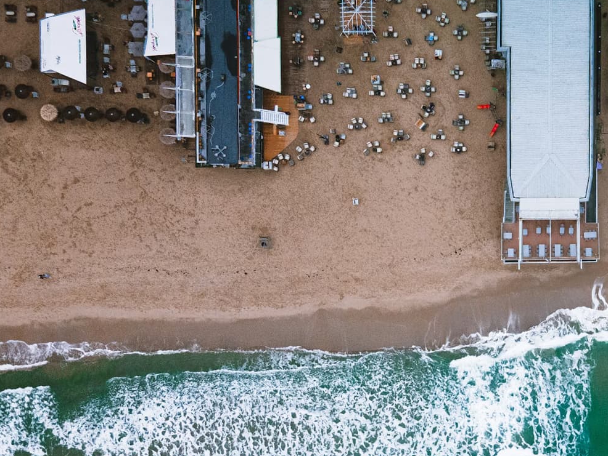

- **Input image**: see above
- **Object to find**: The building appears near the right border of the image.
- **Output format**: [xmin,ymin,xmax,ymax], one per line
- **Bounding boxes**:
[498,0,594,201]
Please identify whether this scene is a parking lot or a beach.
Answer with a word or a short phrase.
beach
